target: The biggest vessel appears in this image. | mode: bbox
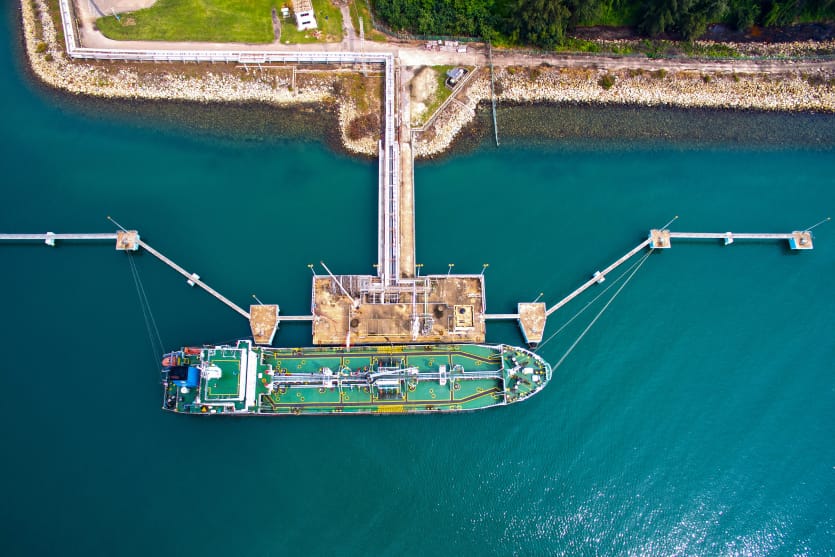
[157,341,553,415]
